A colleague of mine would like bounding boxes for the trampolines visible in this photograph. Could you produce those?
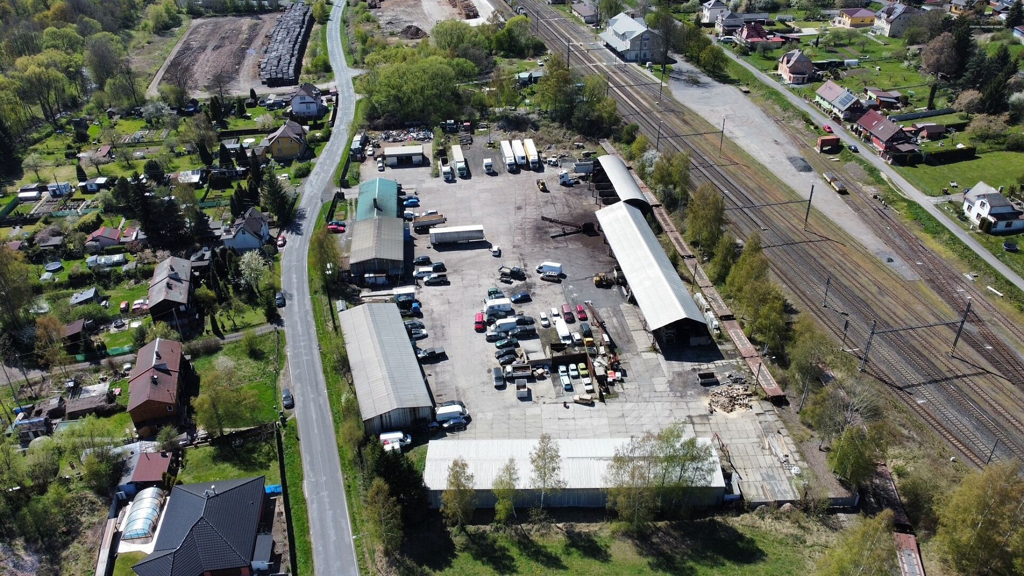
[43,261,62,271]
[1001,236,1023,251]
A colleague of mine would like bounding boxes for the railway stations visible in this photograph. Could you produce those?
[590,12,663,63]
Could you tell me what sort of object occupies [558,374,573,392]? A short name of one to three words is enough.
car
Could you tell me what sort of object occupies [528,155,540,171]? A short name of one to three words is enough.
vehicle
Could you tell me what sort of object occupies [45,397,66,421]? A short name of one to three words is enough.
barn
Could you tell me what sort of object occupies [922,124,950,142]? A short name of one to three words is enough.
shed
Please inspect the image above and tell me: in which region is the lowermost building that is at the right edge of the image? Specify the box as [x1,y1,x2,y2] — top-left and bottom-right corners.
[959,179,1024,233]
